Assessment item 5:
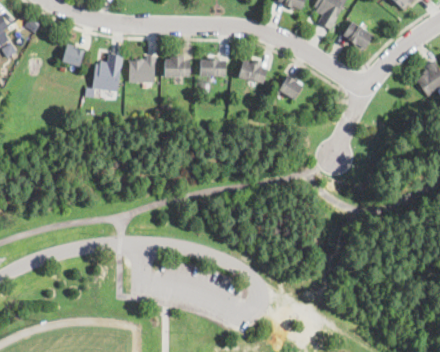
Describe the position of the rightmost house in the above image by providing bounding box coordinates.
[420,60,440,96]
